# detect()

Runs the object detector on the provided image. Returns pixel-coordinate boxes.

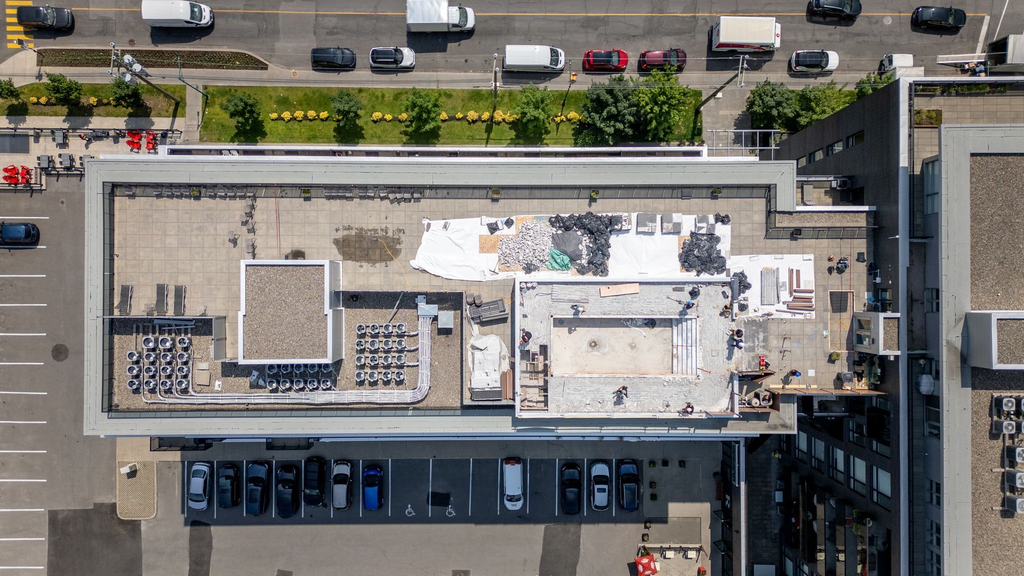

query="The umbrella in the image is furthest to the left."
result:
[635,552,656,576]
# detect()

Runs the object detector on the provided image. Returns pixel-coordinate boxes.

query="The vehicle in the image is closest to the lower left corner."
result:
[186,461,213,510]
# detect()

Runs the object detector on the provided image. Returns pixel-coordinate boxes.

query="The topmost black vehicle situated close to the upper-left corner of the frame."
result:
[18,4,74,31]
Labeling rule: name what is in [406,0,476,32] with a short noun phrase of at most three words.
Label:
truck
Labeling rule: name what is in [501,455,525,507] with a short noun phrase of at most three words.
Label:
vehicle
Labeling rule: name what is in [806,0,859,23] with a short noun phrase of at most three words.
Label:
car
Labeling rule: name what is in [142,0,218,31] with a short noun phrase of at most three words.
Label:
van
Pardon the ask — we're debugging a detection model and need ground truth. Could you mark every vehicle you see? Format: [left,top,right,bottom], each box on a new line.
[406,0,476,32]
[186,461,213,510]
[369,45,415,70]
[790,48,837,73]
[583,48,627,73]
[806,0,859,23]
[217,463,242,509]
[911,5,964,31]
[589,460,612,511]
[706,13,777,52]
[142,0,218,31]
[640,47,686,72]
[0,222,43,246]
[329,460,353,511]
[501,455,525,507]
[311,45,356,70]
[18,4,74,31]
[559,462,583,514]
[275,465,300,519]
[360,464,384,511]
[301,457,326,506]
[244,461,271,516]
[504,46,565,74]
[875,50,924,80]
